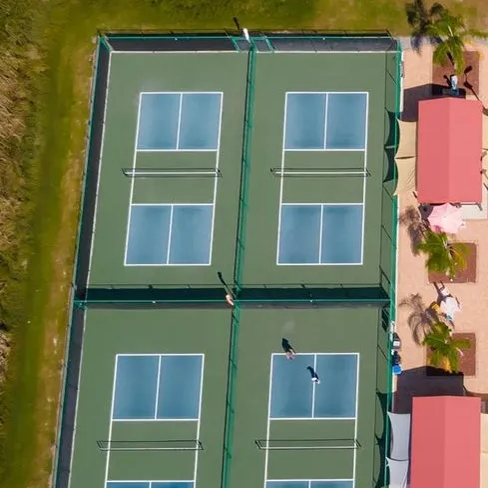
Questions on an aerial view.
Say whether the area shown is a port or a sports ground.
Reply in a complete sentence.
This image shows a sports ground.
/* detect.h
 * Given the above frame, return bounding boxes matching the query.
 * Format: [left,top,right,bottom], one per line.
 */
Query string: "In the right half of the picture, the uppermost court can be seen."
[240,50,400,303]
